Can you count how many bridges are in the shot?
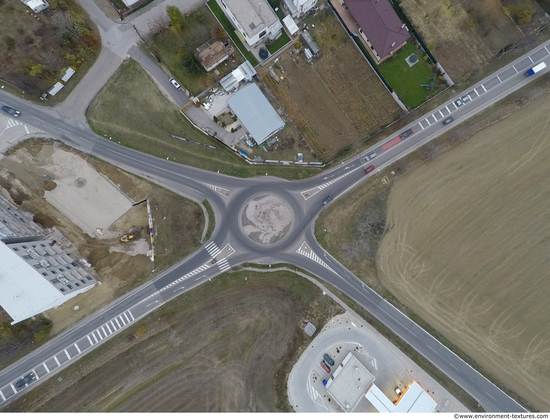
none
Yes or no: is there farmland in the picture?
Yes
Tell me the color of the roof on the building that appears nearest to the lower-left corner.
white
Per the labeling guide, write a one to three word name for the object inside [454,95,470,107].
vehicle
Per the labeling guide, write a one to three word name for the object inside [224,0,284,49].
house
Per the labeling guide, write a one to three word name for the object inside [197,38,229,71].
house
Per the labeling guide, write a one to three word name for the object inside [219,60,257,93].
shed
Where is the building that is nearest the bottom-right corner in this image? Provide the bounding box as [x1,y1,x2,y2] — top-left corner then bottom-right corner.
[327,351,375,412]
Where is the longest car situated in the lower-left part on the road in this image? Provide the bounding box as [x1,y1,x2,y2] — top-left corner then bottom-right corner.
[16,372,37,388]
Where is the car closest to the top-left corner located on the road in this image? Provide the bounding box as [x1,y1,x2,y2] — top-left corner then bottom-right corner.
[2,104,22,117]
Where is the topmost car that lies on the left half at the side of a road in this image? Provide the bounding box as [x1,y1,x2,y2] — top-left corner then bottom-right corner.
[169,77,182,91]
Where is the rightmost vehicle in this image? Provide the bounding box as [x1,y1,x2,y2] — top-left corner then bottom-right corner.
[524,61,547,78]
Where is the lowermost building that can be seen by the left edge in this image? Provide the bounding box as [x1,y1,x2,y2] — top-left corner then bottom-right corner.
[0,242,97,325]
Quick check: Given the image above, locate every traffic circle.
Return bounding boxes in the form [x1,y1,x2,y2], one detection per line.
[238,191,295,248]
